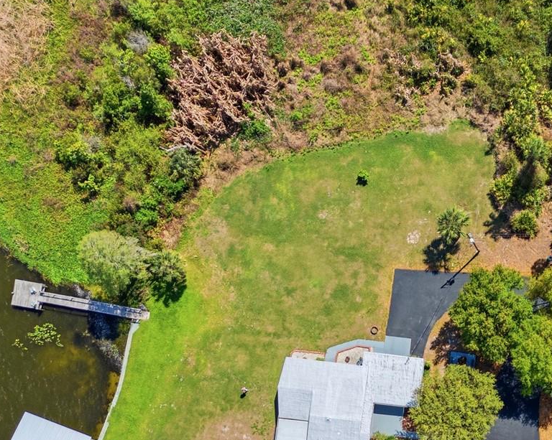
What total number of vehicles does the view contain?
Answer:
zero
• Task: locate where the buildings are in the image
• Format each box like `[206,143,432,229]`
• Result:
[11,412,100,440]
[276,352,424,440]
